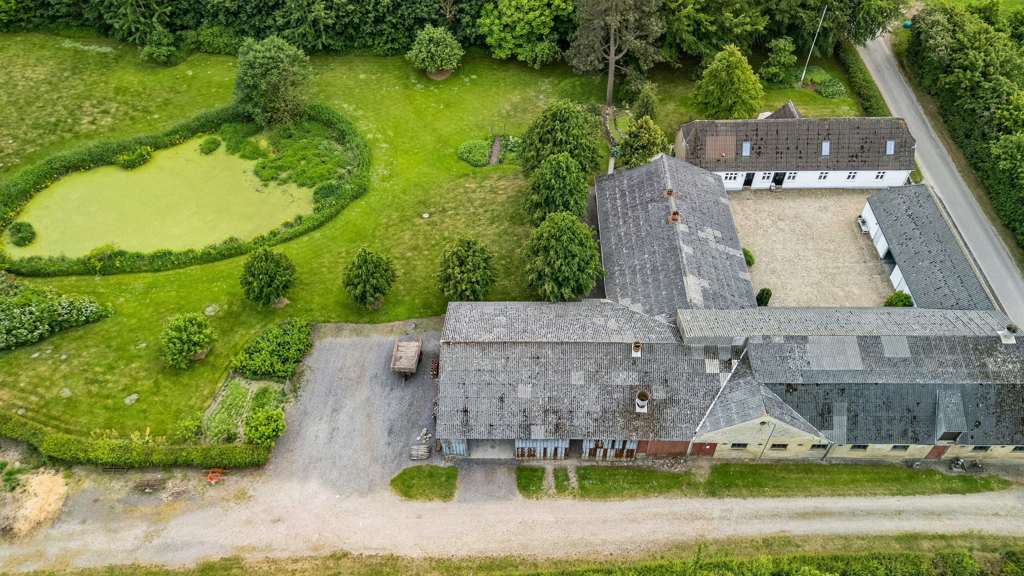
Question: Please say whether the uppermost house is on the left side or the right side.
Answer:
right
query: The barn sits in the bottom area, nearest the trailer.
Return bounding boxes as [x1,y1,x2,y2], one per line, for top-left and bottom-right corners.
[436,299,735,460]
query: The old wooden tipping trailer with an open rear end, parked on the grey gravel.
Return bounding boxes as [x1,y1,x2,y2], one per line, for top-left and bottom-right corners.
[391,337,423,386]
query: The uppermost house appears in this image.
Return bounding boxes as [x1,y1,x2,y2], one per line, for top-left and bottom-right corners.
[675,97,918,194]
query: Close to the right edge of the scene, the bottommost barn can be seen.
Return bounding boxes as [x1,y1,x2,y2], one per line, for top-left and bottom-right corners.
[677,305,1024,460]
